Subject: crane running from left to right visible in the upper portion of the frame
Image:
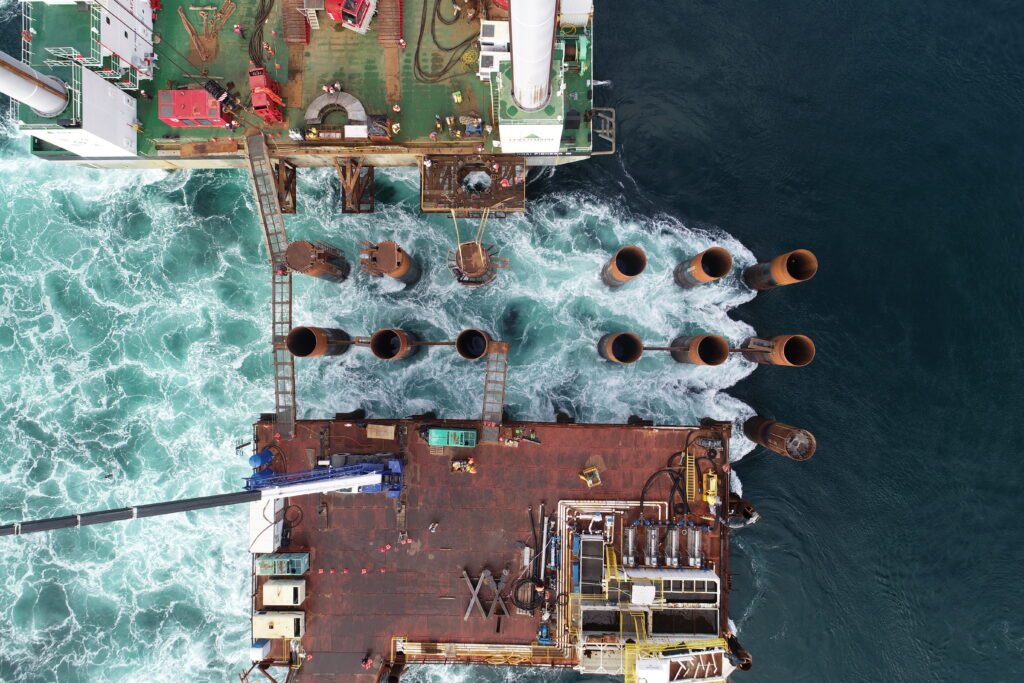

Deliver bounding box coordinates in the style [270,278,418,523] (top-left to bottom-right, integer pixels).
[283,0,407,49]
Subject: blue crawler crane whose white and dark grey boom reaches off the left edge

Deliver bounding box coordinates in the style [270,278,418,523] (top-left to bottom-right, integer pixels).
[0,451,406,537]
